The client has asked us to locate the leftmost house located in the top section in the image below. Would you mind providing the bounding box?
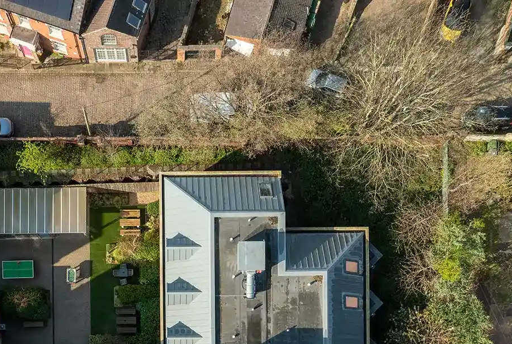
[0,0,92,63]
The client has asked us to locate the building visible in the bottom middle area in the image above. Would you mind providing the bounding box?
[160,171,381,344]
